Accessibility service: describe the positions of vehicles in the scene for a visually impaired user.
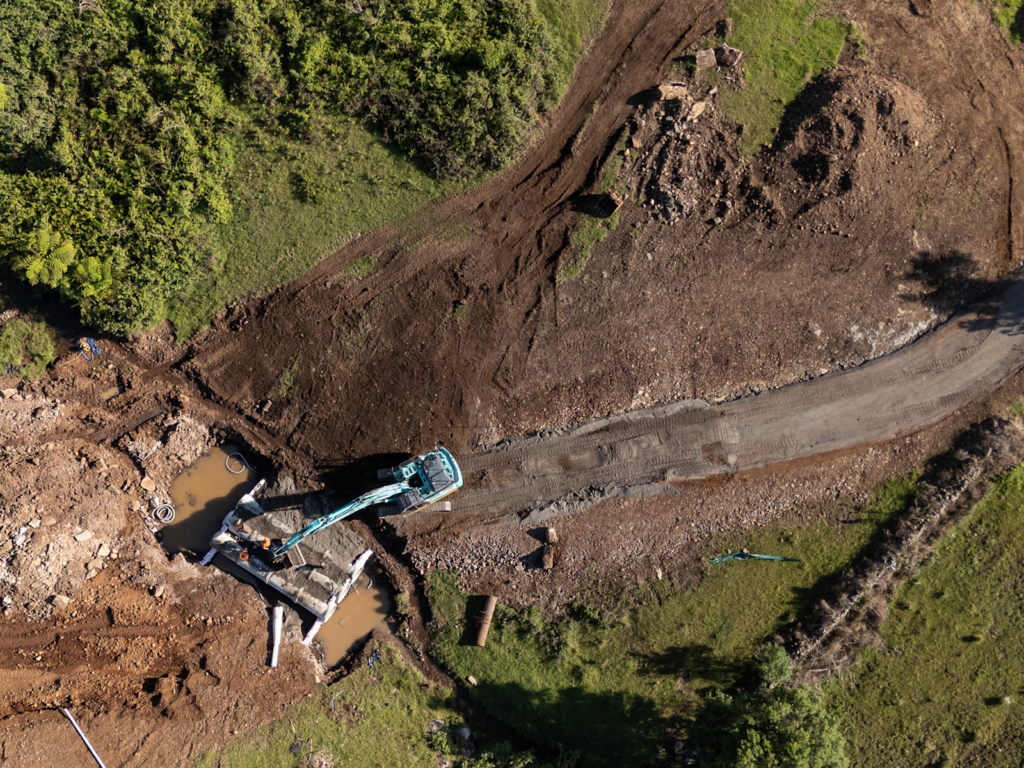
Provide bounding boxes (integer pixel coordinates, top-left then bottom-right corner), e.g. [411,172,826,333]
[274,447,463,570]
